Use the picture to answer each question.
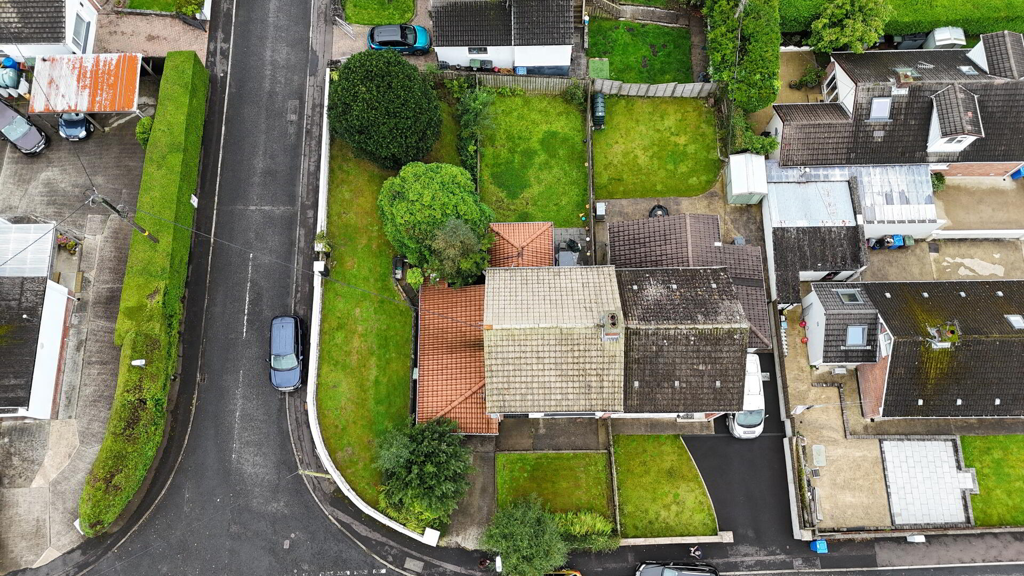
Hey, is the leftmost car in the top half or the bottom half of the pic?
top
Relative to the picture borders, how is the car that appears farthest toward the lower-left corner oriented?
up and down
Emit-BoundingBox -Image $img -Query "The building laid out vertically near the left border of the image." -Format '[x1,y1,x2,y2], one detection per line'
[0,221,82,413]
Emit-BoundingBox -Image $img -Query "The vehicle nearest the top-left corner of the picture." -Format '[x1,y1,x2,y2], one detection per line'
[0,93,48,159]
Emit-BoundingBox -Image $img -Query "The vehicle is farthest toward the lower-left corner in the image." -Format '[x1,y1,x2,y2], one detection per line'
[267,315,309,394]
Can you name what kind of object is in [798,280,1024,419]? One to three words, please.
house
